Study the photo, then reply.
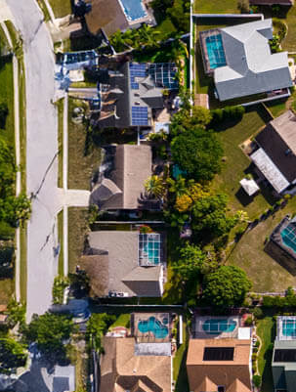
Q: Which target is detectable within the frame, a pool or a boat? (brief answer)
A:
pool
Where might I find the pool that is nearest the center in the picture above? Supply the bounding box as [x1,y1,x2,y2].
[140,233,160,266]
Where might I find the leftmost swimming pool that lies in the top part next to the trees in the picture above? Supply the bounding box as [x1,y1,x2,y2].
[123,0,153,25]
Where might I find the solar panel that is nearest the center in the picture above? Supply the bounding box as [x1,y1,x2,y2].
[130,107,147,122]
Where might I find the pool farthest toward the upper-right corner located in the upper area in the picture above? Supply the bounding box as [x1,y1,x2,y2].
[193,30,226,81]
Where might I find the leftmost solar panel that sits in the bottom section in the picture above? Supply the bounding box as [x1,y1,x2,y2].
[204,347,233,360]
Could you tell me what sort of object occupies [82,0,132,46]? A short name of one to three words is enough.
house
